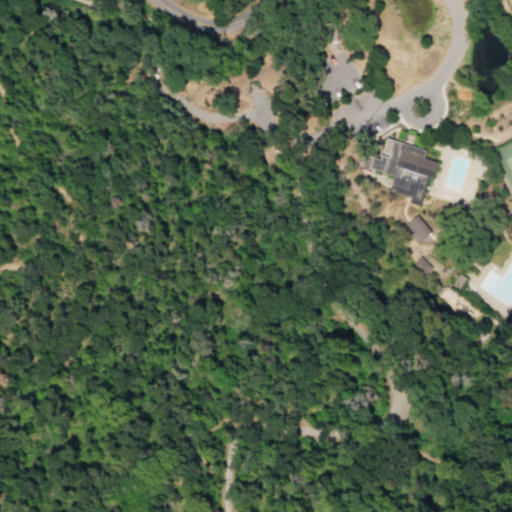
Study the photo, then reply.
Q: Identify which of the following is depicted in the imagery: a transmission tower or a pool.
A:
pool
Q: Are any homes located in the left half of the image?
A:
No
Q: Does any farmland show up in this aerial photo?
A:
No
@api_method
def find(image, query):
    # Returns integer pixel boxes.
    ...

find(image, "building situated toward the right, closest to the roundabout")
[371,138,440,204]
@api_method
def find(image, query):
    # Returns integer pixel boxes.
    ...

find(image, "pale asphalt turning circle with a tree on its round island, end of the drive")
[402,84,446,129]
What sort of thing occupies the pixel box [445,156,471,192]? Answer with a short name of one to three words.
swimming pool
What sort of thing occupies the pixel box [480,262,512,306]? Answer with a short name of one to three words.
swimming pool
